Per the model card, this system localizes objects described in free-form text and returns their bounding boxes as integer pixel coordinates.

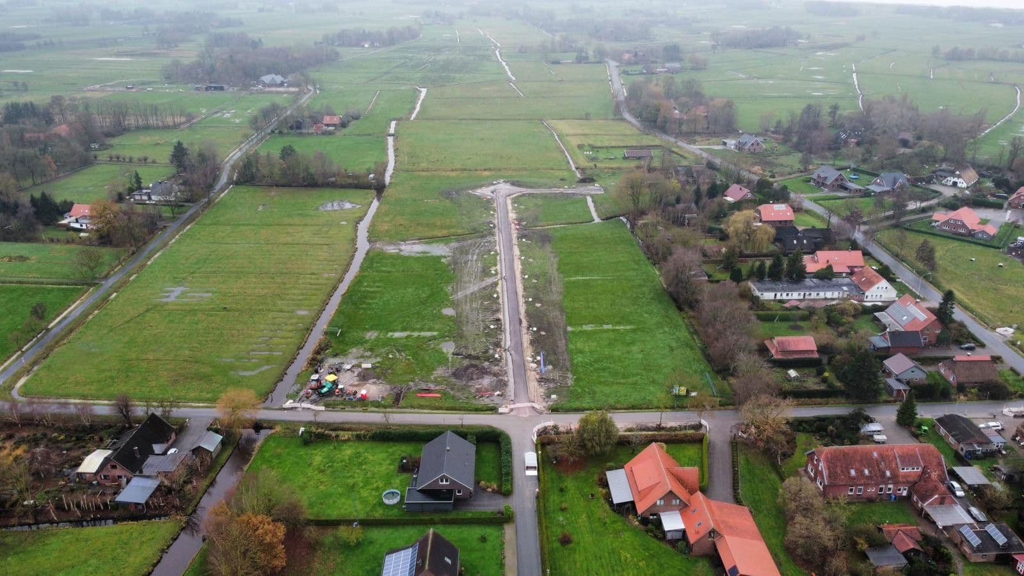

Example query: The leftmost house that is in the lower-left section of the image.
[77,413,187,514]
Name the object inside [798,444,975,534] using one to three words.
house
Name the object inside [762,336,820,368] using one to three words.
barn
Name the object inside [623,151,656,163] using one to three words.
barn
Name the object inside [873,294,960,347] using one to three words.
house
